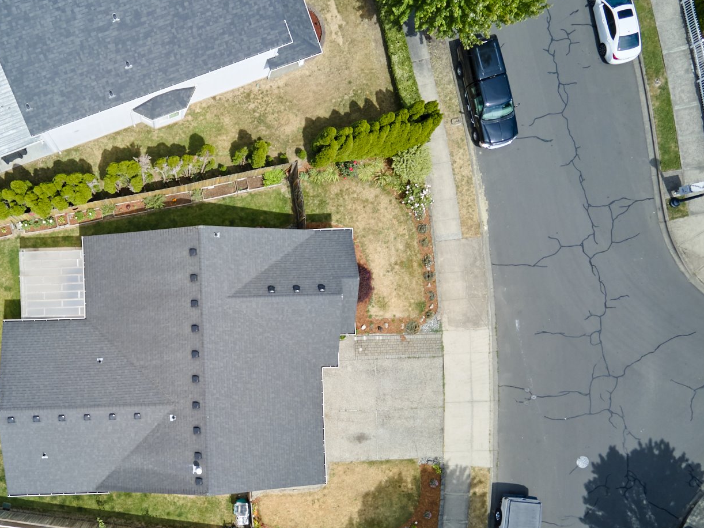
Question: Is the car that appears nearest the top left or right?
right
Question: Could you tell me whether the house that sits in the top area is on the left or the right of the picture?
left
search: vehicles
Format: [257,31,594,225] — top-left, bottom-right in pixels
[492,486,539,528]
[457,36,522,153]
[585,0,640,67]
